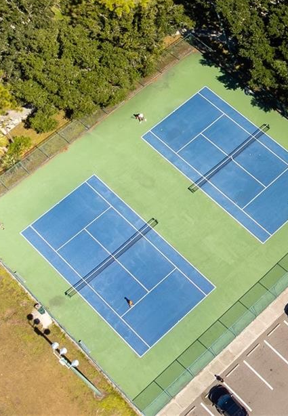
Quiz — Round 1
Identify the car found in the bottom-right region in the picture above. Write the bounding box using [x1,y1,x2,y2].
[211,384,250,416]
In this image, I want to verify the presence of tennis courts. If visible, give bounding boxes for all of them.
[0,130,280,416]
[91,49,288,302]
